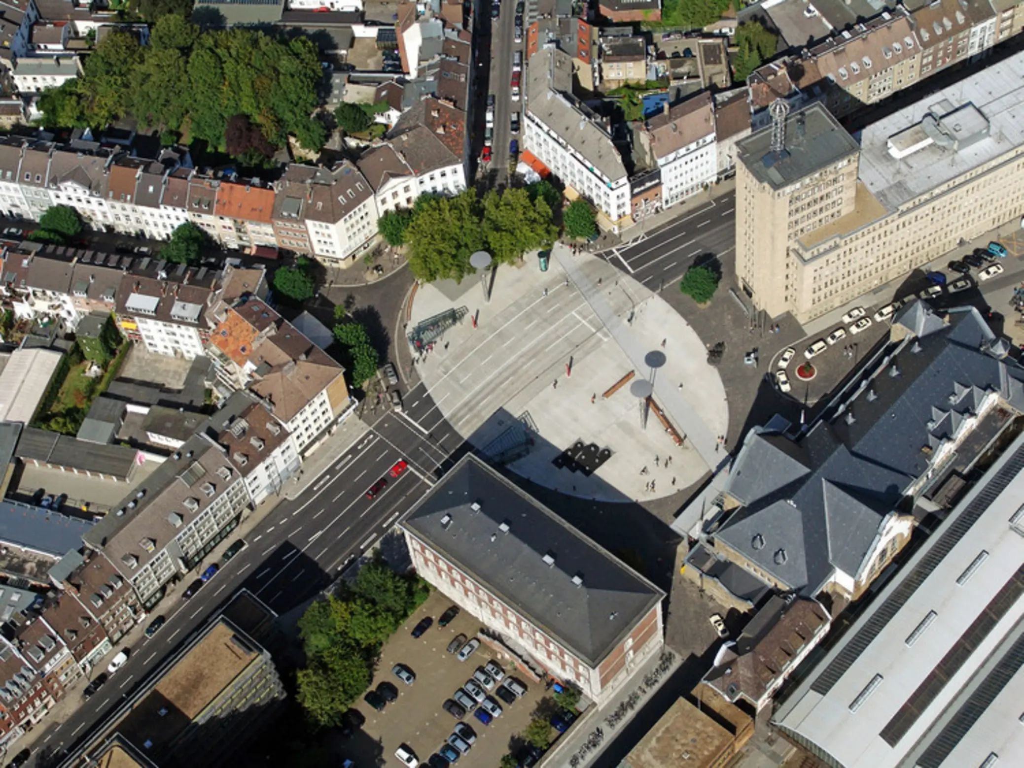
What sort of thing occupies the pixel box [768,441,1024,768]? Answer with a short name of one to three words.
shed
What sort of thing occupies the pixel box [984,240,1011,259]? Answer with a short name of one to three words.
vehicle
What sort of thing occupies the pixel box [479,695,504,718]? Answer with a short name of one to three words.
car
